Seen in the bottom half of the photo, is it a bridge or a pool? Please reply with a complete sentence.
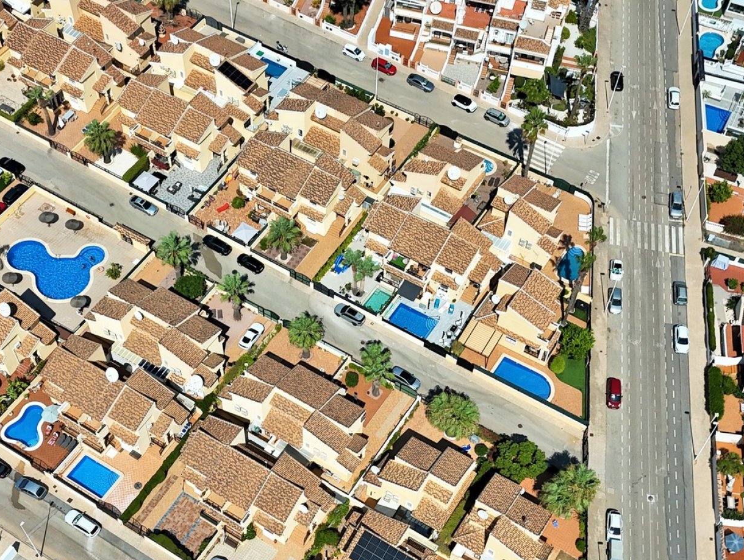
You can see a pool in the bottom half of the photo.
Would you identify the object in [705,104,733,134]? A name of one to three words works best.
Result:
swimming pool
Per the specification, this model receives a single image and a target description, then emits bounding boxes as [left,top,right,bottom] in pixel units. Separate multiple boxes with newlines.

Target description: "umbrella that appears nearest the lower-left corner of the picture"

[34,399,58,421]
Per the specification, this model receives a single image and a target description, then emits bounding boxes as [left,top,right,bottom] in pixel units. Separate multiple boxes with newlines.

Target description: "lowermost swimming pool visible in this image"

[63,453,123,502]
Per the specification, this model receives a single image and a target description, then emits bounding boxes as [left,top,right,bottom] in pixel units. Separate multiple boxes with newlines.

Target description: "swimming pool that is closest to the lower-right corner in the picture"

[493,359,553,399]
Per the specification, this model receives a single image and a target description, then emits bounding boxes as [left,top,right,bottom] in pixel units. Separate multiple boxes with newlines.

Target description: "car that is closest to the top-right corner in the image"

[666,87,681,111]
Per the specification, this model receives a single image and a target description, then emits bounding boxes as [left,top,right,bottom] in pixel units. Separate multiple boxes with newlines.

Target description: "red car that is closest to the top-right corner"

[370,57,397,77]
